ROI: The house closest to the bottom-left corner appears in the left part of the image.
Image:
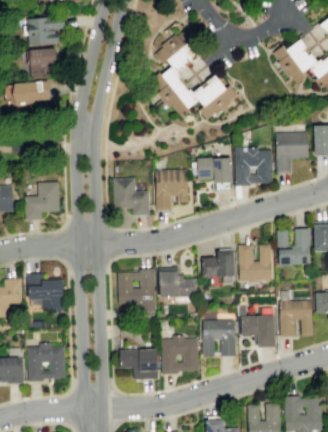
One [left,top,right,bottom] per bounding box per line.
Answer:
[0,357,24,383]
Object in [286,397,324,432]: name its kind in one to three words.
house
